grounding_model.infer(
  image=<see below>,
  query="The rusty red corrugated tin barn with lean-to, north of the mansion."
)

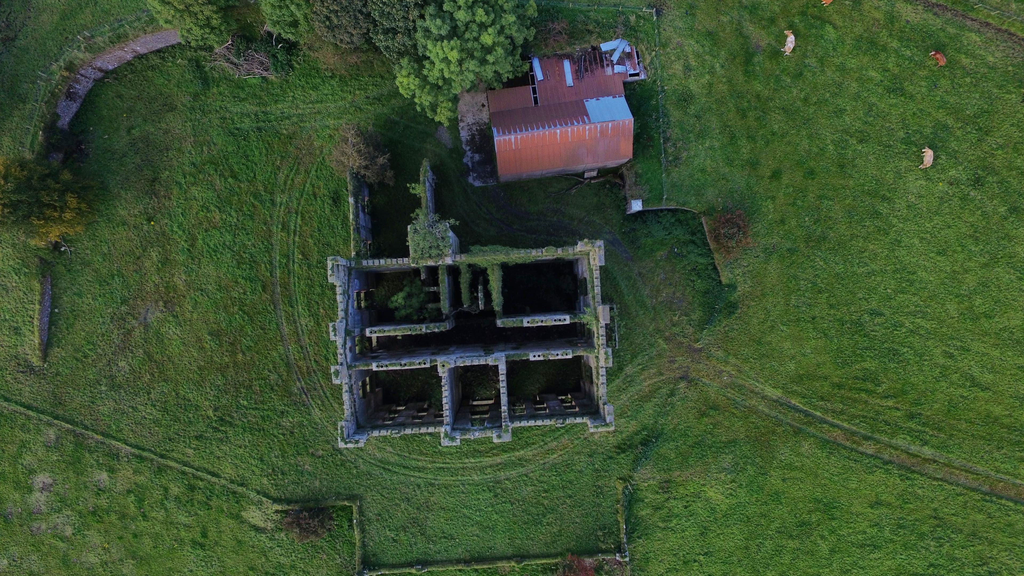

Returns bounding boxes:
[489,47,634,181]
